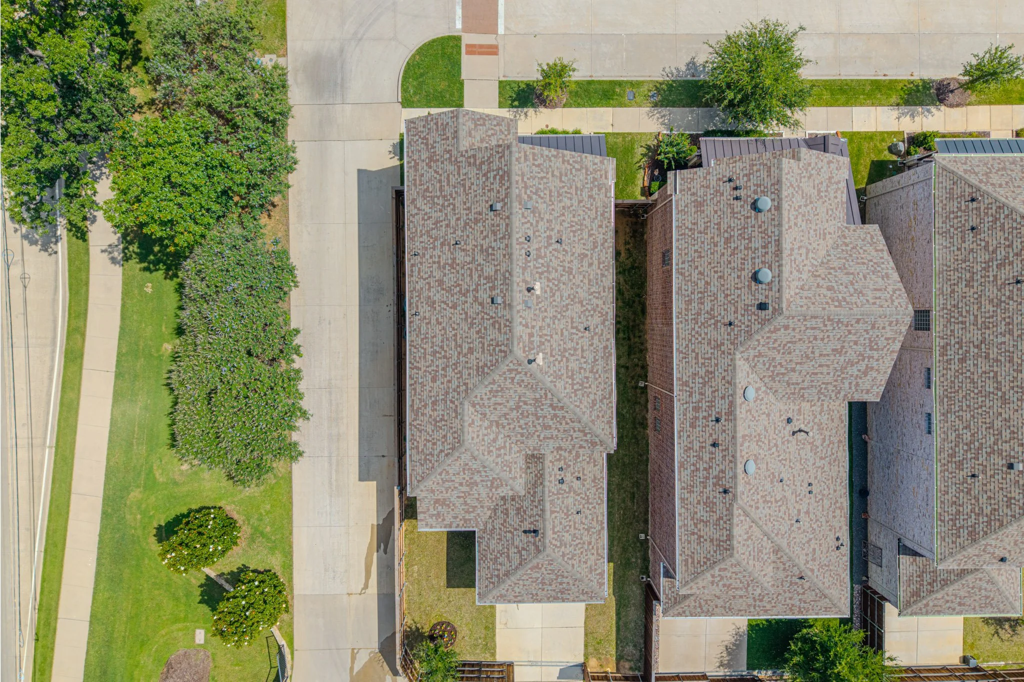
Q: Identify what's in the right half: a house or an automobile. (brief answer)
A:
house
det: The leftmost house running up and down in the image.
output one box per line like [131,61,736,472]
[404,109,618,606]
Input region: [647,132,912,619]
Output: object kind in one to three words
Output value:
house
